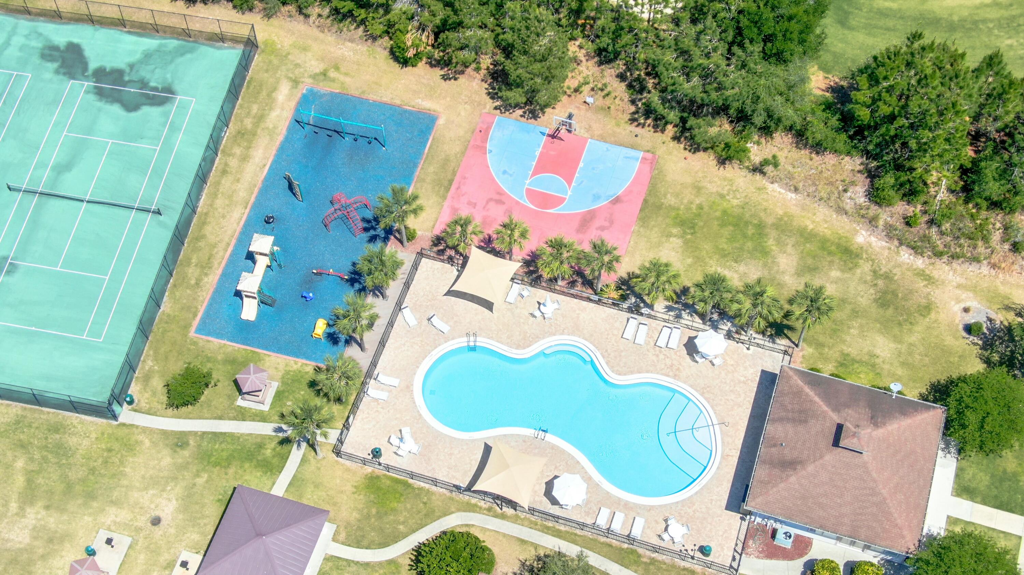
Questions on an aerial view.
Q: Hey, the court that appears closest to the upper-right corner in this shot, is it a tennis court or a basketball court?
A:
basketball court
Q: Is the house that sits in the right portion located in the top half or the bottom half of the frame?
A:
bottom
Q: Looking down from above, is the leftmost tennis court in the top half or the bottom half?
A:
top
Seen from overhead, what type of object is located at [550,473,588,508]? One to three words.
umbrella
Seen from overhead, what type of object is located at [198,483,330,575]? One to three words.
building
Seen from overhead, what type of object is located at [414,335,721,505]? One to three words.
swimming pool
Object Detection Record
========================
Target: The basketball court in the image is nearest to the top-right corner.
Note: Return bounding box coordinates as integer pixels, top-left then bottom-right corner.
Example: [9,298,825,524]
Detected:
[433,112,658,281]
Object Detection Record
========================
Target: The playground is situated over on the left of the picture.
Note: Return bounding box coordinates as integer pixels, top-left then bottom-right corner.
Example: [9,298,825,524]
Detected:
[190,82,441,373]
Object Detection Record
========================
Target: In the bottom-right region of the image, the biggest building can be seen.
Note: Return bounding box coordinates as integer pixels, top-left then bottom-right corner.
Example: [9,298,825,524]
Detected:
[742,363,948,563]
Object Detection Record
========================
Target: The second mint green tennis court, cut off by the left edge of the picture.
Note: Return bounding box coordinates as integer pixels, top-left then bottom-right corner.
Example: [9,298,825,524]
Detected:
[0,8,77,189]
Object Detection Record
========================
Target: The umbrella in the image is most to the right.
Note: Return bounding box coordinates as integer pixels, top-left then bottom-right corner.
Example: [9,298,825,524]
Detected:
[692,324,730,357]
